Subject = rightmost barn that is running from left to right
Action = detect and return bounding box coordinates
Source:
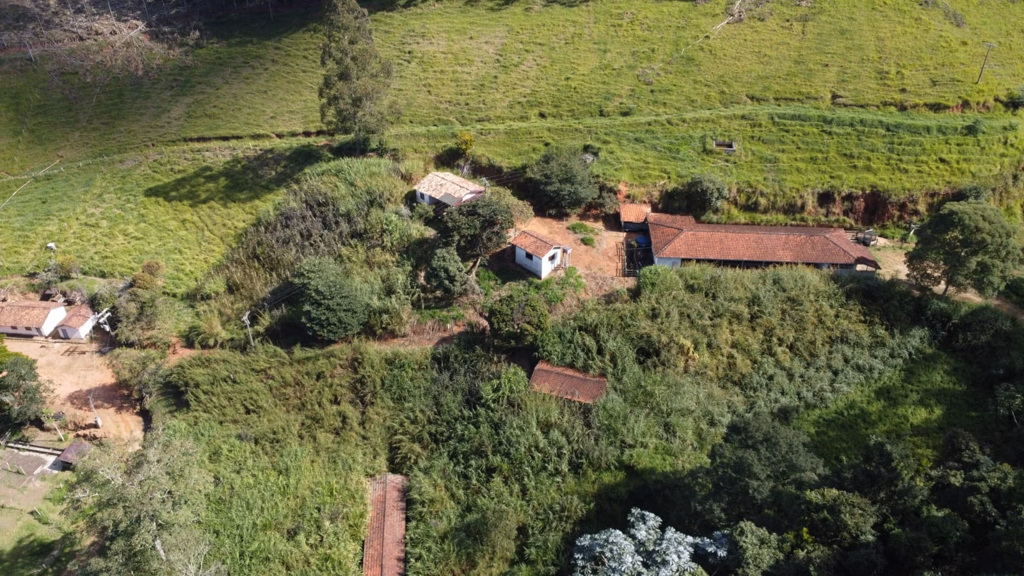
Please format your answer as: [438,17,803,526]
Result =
[648,209,870,281]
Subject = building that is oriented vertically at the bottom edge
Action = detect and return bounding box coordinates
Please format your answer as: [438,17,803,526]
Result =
[358,470,406,576]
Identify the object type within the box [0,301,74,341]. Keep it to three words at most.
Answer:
house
